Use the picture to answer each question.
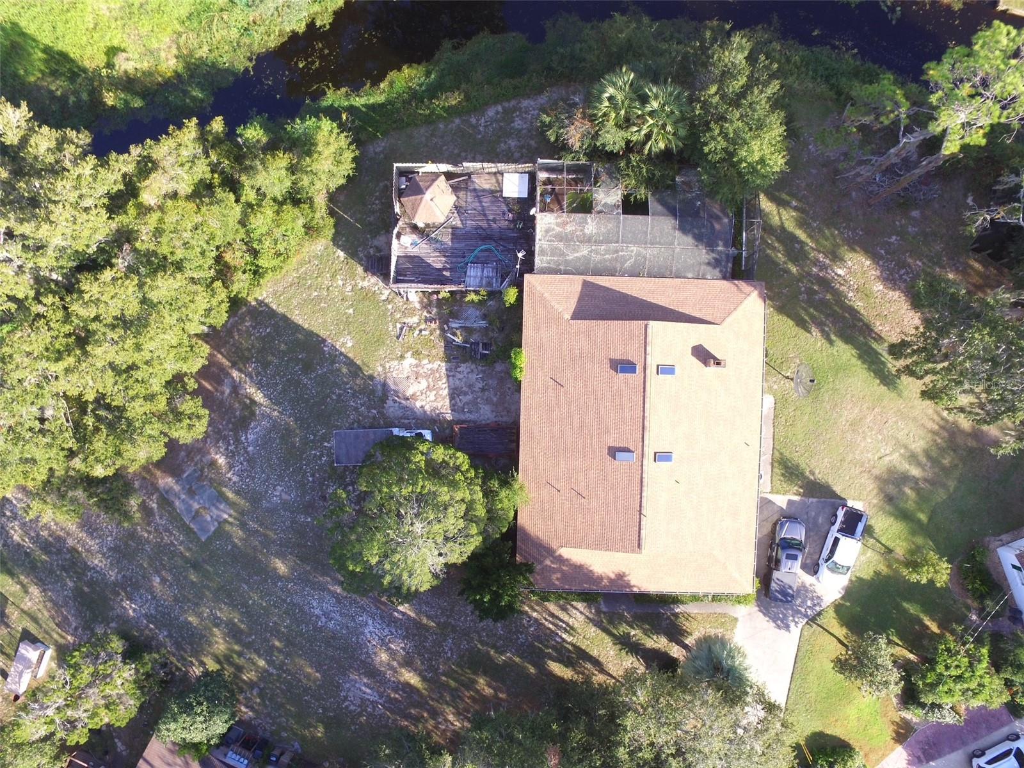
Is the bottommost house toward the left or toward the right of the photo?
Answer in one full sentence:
The bottommost house is on the right side of the image.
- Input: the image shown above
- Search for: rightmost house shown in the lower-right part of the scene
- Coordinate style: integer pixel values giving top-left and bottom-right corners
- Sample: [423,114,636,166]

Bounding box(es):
[987,522,1024,610]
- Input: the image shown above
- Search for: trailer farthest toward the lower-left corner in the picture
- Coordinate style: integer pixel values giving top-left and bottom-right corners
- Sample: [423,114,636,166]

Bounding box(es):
[2,628,62,703]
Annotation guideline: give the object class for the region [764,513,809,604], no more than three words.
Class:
truck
